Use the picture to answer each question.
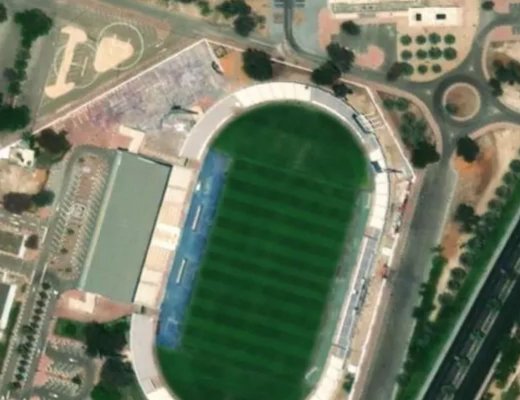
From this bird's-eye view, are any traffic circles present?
Yes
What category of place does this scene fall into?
sports ground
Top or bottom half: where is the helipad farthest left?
top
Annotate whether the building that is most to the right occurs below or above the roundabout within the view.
above it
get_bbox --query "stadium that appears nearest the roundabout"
[129,81,390,400]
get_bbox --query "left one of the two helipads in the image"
[45,26,99,98]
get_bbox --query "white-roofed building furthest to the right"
[410,6,464,26]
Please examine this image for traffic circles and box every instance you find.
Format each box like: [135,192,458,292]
[427,68,495,136]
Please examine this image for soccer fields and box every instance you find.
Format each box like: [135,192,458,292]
[154,99,375,400]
